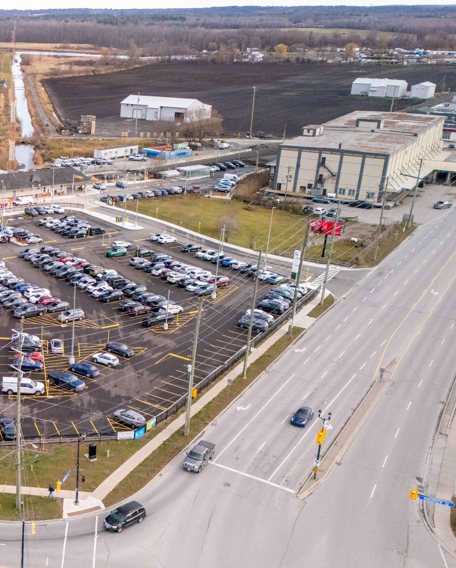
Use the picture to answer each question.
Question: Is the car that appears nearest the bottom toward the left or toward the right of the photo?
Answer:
left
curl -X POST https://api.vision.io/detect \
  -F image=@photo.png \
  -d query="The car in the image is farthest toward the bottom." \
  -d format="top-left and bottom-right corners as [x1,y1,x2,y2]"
[100,500,149,534]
